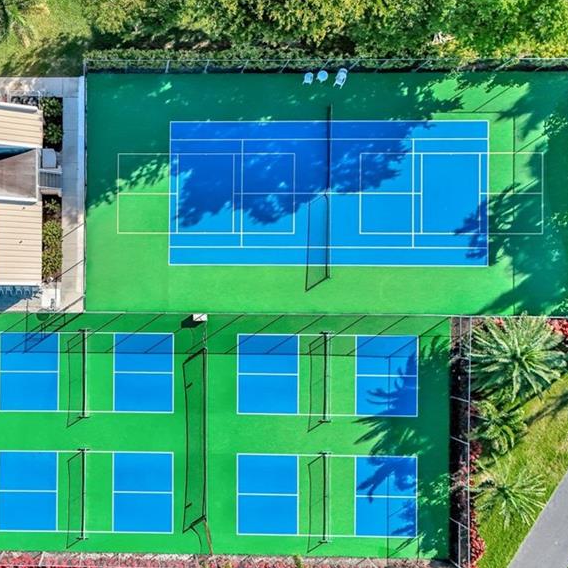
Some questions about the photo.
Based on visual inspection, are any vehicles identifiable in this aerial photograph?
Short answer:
No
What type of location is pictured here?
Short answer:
sports ground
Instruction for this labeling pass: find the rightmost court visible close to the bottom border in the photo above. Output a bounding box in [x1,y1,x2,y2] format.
[202,432,452,561]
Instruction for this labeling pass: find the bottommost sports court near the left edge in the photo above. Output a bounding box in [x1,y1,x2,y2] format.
[0,432,202,556]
